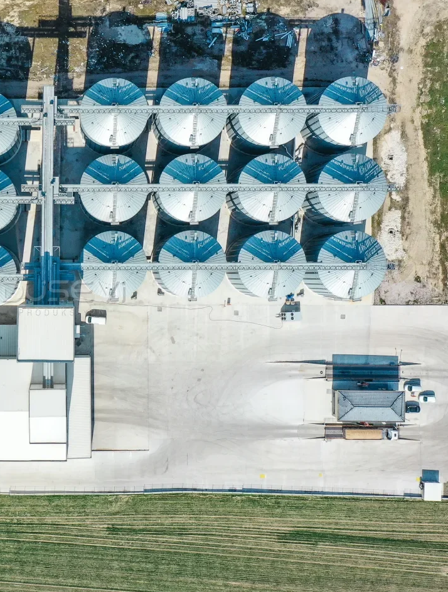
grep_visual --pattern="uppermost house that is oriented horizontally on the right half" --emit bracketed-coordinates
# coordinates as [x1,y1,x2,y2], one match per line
[333,390,407,423]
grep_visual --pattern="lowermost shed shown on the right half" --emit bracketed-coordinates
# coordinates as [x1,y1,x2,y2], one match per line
[421,481,442,500]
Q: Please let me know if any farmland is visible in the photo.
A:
Yes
